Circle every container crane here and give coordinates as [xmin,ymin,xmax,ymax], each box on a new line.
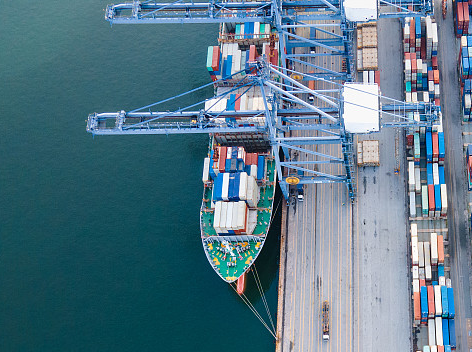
[84,62,431,204]
[105,0,425,101]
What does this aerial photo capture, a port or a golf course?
port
